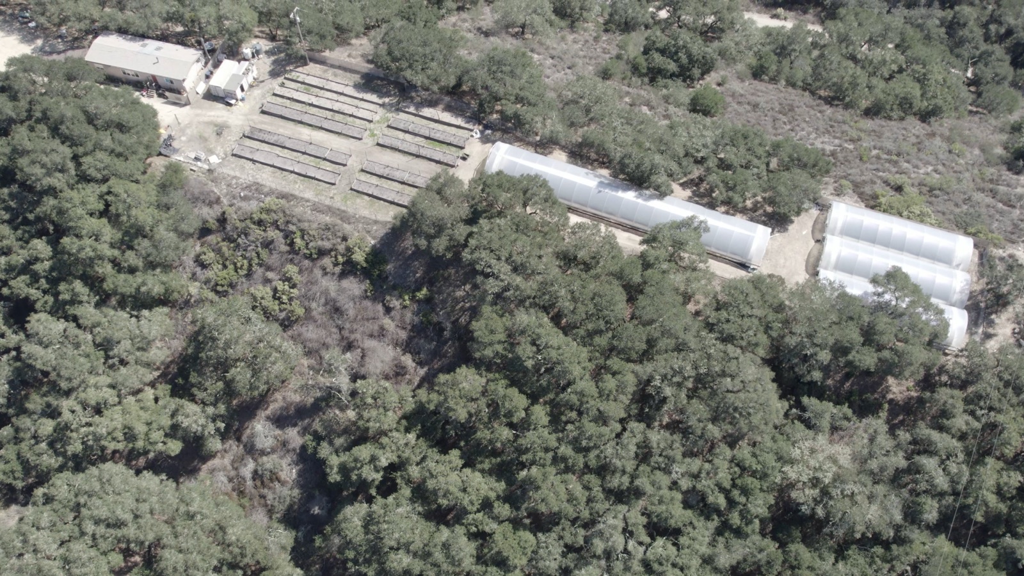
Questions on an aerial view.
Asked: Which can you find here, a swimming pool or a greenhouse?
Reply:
greenhouse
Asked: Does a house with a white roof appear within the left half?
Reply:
Yes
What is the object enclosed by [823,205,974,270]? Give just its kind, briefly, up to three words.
greenhouse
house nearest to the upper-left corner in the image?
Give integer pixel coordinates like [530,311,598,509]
[85,33,214,95]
